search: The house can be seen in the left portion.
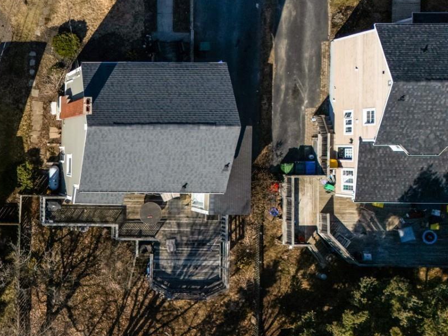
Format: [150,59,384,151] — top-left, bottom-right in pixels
[47,62,252,216]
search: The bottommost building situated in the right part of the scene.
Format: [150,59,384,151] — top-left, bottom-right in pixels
[329,24,448,203]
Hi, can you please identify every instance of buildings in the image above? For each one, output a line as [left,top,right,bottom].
[329,24,448,203]
[47,62,252,216]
